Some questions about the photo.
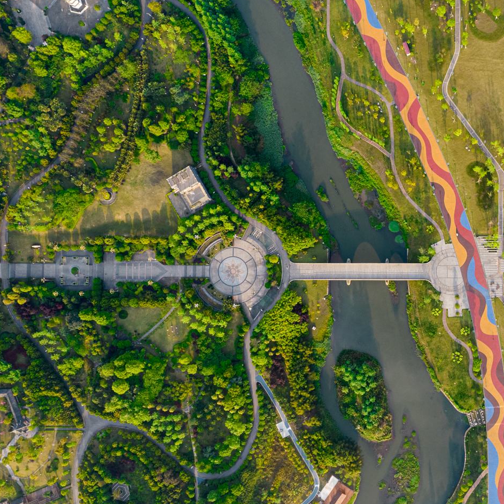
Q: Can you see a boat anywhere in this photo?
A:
No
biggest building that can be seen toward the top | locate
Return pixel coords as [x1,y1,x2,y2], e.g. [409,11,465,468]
[166,166,214,209]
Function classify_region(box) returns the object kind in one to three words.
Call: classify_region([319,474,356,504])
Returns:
house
